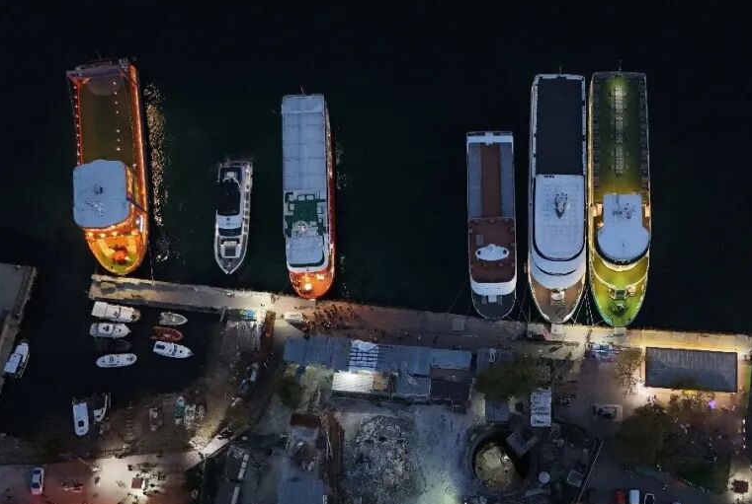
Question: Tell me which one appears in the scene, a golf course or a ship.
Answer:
ship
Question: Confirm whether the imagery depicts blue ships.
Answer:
Yes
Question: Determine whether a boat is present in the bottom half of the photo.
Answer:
Yes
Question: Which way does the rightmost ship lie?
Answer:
vertically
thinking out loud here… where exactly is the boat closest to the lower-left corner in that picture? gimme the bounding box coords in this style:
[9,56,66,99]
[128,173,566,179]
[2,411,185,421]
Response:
[68,398,90,435]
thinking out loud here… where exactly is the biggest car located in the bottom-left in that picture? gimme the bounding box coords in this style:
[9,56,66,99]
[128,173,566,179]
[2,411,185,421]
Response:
[28,469,45,494]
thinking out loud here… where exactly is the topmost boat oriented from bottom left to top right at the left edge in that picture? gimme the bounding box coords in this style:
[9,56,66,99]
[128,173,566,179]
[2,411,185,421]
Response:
[0,344,30,379]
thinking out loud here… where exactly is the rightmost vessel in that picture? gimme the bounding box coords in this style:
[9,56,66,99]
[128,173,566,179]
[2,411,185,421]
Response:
[581,70,650,338]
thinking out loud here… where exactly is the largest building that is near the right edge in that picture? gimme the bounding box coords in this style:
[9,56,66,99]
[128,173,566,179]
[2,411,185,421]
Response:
[643,346,741,397]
